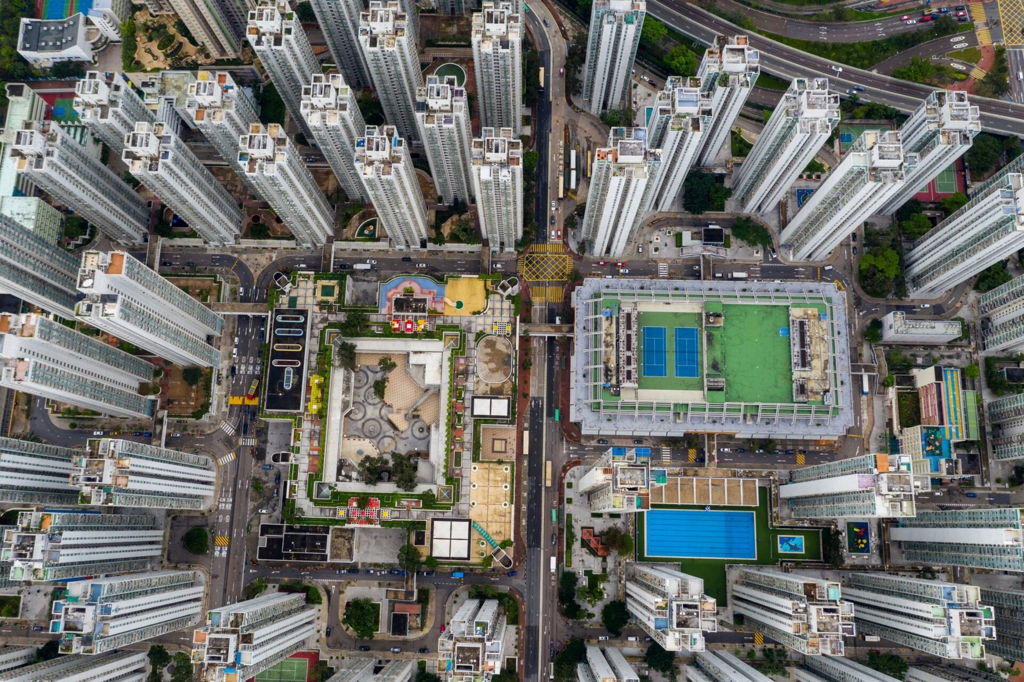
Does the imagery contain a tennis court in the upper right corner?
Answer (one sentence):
Yes, there is a tennis court in the upper right corner.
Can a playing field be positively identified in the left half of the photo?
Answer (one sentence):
No, looking in the left half of the photo, there is no playing field.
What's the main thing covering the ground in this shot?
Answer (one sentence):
The scene is dominated by buildings.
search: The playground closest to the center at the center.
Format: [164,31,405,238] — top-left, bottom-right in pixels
[380,276,490,315]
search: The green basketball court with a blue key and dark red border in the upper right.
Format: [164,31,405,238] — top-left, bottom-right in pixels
[835,122,895,159]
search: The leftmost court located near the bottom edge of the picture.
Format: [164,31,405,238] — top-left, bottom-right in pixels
[254,650,320,682]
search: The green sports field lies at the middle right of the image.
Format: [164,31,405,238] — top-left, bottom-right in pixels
[723,304,792,402]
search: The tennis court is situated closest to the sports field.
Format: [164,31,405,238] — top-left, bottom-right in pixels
[673,328,700,377]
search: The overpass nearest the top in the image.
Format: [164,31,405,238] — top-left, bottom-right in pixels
[645,0,1024,137]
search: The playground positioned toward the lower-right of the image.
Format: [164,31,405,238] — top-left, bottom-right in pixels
[847,522,870,553]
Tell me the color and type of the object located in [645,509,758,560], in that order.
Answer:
blue swimming pool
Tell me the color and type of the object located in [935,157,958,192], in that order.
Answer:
green tennis court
